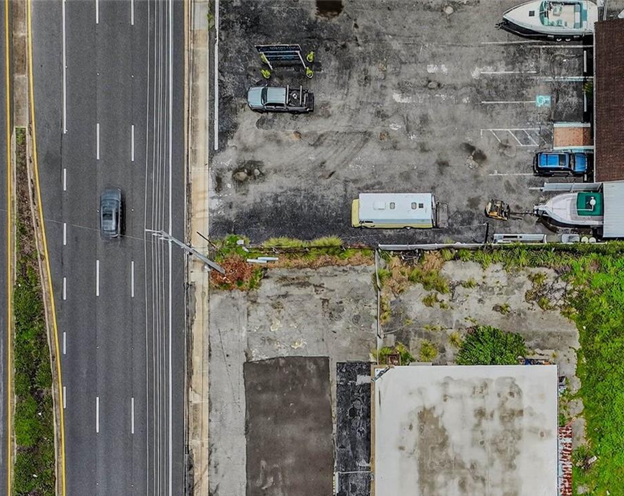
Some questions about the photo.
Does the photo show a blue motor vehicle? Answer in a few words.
Yes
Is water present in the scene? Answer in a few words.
No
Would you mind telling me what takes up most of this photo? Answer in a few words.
paved ground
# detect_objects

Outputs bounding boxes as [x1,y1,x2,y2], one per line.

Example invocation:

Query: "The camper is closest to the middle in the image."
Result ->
[353,193,435,227]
